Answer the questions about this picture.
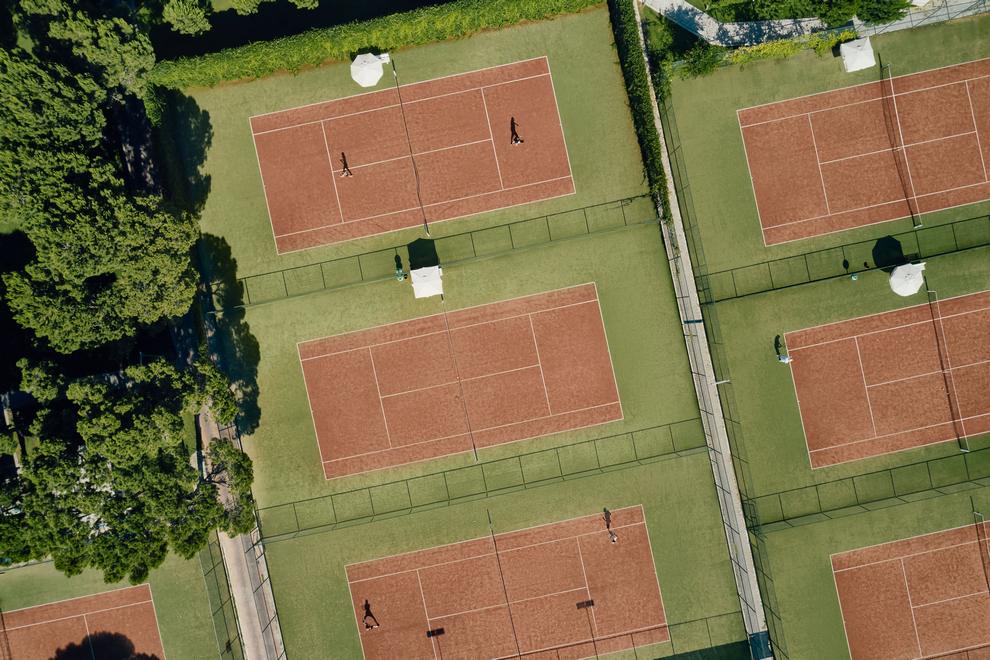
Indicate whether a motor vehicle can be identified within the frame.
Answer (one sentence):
No, there is no motor vehicle in the image.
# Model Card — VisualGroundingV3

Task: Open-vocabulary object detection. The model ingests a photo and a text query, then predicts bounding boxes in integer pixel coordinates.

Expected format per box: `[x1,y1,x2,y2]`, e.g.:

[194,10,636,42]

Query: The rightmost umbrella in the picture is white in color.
[887,261,924,299]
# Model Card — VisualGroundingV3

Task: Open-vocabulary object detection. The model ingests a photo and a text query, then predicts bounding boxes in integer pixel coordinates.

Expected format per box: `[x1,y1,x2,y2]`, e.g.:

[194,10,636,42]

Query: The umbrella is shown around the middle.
[410,264,446,301]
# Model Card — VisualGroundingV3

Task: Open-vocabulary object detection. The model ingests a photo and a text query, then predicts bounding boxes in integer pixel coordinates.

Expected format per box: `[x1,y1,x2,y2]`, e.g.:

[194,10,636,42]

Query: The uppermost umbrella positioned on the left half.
[350,54,386,90]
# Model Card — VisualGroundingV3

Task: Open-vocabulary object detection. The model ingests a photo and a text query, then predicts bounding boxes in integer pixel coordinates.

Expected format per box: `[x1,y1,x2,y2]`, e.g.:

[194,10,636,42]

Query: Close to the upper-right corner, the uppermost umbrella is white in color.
[837,37,876,74]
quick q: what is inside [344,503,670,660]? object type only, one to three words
tennis court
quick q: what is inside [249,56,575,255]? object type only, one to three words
tennis court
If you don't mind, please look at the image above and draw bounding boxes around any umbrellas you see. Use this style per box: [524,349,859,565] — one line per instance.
[410,264,446,301]
[837,37,876,74]
[887,261,924,299]
[350,54,386,90]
